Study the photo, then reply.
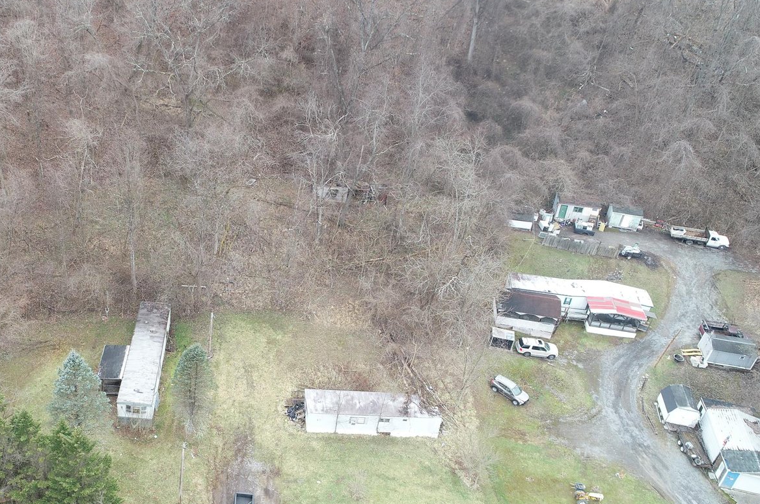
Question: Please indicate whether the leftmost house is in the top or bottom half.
bottom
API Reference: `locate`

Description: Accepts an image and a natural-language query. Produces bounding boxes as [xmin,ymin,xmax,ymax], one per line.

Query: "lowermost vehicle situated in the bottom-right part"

[573,482,609,504]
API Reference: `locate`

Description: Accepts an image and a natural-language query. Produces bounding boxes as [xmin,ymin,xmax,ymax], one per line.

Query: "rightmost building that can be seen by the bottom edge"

[696,391,760,495]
